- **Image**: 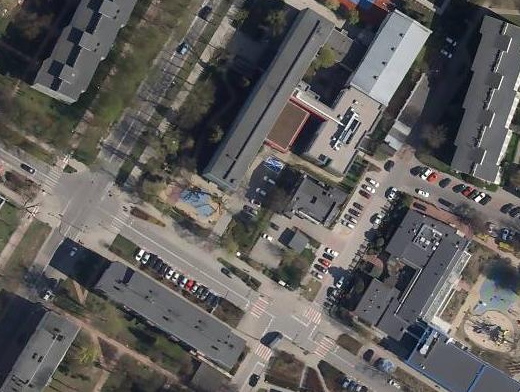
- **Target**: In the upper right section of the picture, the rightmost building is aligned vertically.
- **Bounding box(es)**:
[452,15,520,188]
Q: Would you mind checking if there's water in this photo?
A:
No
